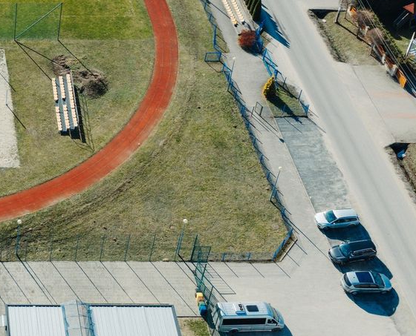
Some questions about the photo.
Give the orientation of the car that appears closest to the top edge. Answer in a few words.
from side to side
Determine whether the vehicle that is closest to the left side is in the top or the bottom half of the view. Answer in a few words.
bottom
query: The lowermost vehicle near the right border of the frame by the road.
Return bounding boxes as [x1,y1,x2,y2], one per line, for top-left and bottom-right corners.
[341,269,396,295]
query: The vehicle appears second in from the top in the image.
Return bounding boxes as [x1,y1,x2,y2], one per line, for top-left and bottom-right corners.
[326,238,384,265]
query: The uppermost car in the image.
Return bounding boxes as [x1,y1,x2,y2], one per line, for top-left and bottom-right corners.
[314,204,367,227]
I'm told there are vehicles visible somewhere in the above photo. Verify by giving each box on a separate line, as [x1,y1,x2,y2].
[341,269,396,295]
[216,301,288,336]
[326,238,384,265]
[314,204,367,227]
